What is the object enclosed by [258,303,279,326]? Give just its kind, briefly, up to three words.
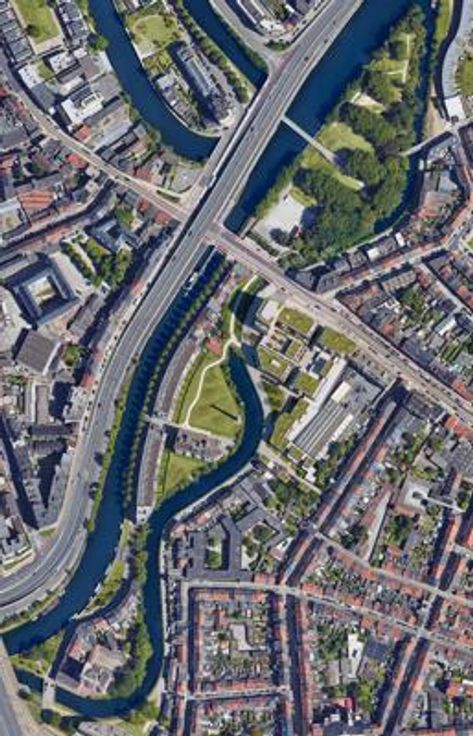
building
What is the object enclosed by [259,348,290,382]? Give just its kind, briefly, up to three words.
building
